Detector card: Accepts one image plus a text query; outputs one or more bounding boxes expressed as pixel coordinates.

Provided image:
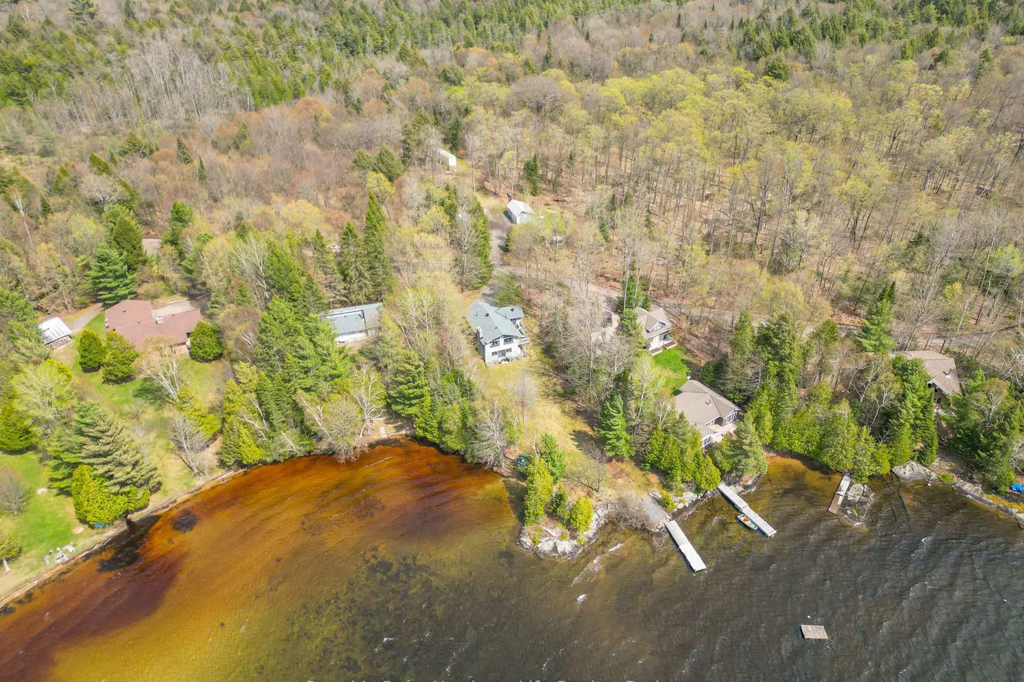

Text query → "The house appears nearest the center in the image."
[457,301,532,366]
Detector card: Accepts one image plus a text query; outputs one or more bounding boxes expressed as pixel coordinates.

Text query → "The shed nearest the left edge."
[40,322,75,354]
